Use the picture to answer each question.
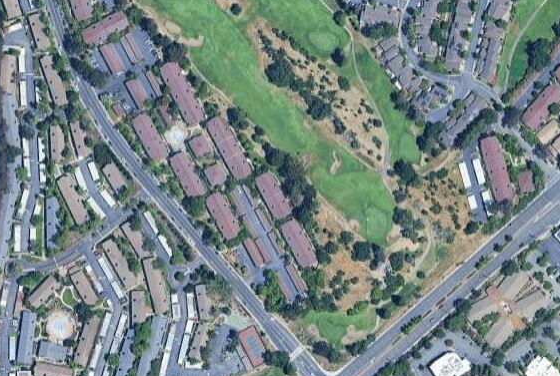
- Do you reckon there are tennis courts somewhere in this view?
Yes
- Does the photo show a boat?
No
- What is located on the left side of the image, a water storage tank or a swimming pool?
swimming pool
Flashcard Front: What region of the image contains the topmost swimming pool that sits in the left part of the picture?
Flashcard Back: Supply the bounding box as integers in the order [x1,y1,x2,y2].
[162,123,188,148]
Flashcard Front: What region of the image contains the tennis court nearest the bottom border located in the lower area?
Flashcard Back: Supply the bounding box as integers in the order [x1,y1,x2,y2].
[237,326,263,365]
